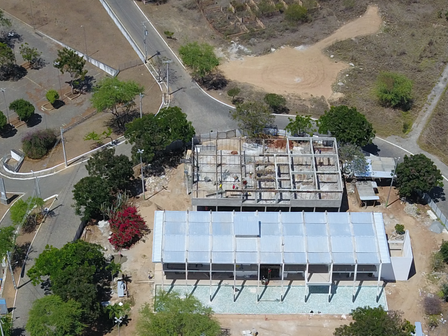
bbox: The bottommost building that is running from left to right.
[152,208,413,304]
